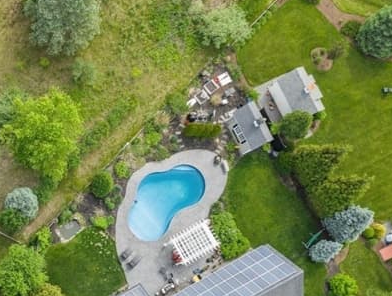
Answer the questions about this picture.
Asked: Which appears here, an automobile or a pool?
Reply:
pool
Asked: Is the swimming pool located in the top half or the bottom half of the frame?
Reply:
bottom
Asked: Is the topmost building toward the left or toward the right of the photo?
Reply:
right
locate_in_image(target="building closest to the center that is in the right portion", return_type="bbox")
[224,102,274,155]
